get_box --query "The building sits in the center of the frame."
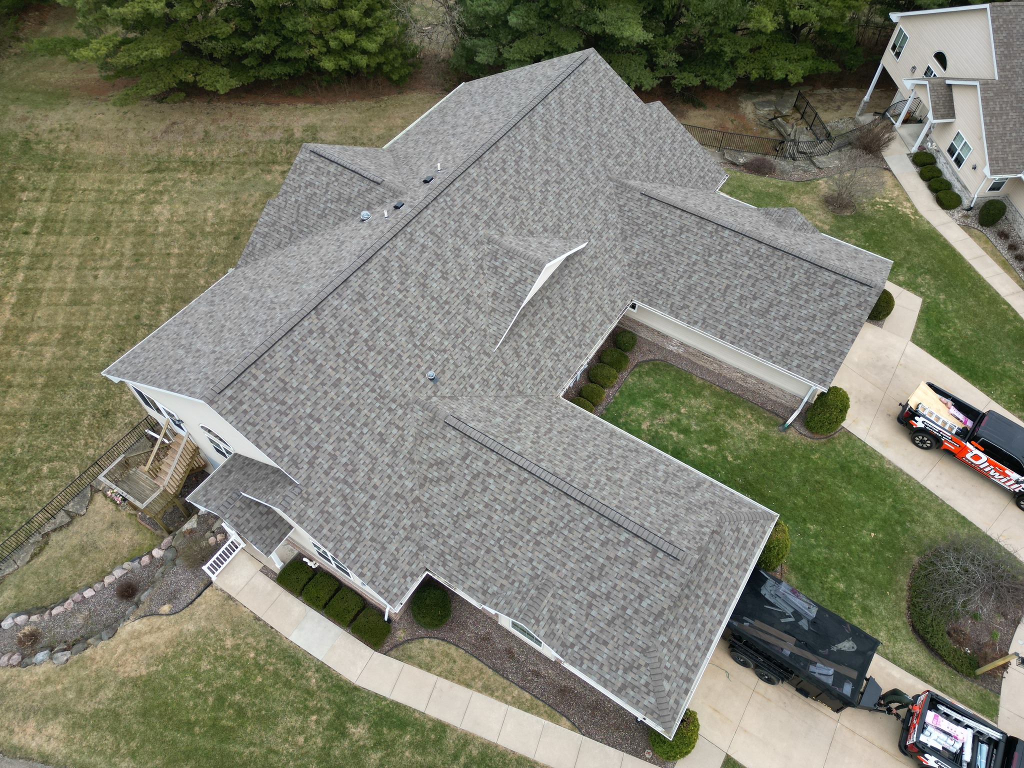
[101,49,894,741]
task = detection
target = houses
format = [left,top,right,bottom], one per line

[856,3,1024,247]
[101,49,894,741]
